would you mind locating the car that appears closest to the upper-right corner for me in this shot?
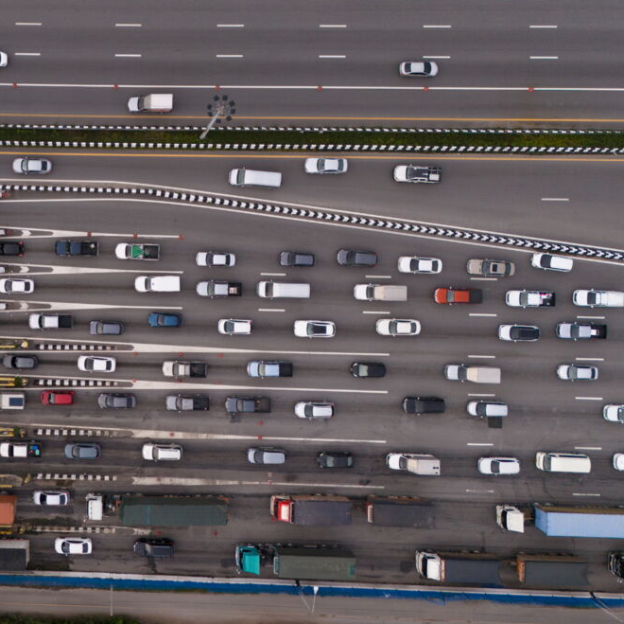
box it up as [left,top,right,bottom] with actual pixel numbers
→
[399,60,437,79]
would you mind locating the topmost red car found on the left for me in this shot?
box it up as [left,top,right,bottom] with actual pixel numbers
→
[41,389,76,407]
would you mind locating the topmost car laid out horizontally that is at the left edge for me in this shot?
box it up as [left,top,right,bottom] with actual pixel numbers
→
[12,156,52,175]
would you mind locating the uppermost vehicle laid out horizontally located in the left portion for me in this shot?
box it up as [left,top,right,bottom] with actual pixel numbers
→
[127,93,174,112]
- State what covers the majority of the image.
paved ground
